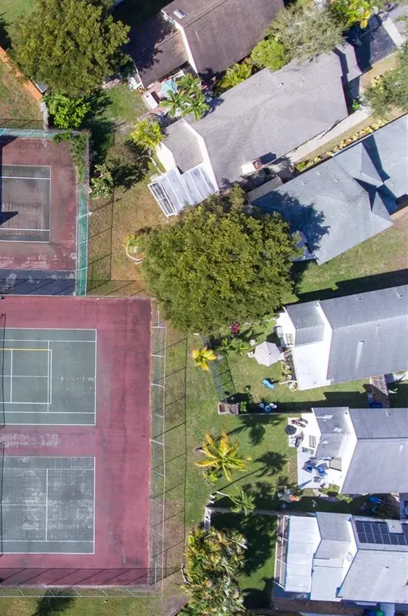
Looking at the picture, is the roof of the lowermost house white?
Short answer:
Yes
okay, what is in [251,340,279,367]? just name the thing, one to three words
umbrella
